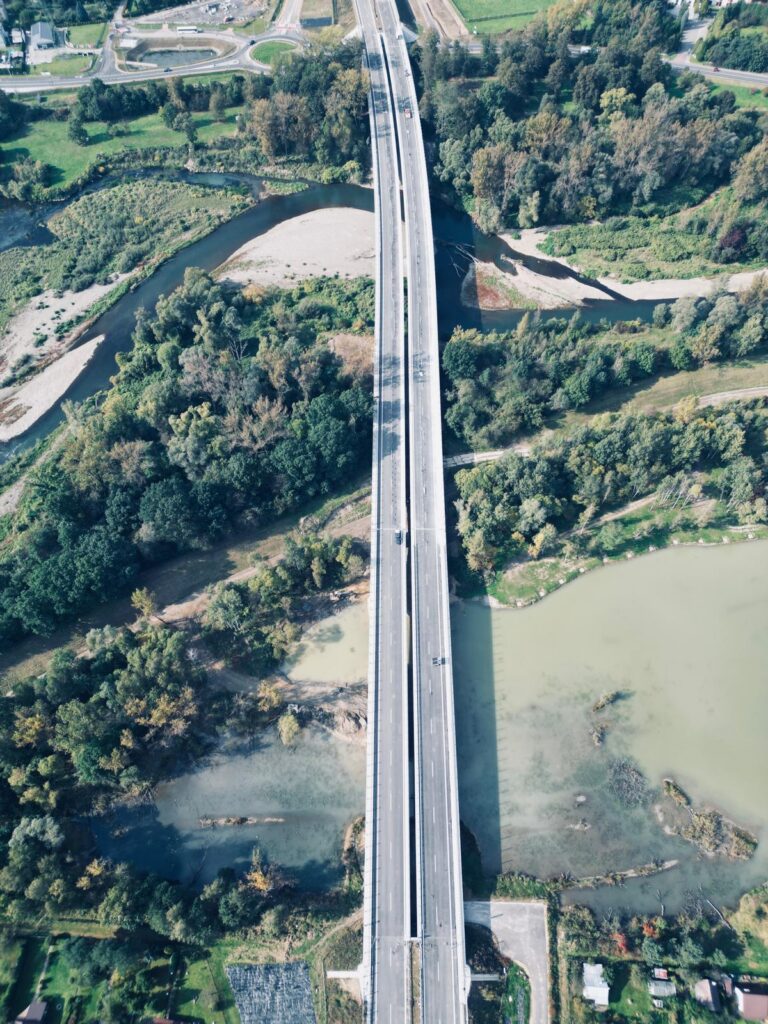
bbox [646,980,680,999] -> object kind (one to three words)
greenhouse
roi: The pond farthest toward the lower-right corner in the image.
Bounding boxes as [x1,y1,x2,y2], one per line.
[406,535,768,921]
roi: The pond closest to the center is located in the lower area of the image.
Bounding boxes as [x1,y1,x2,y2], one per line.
[284,598,369,685]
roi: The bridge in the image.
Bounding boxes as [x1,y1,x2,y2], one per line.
[355,0,473,1024]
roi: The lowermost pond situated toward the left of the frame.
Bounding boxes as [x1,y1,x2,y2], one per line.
[94,726,367,889]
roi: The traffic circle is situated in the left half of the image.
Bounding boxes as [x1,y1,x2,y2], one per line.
[234,34,310,76]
